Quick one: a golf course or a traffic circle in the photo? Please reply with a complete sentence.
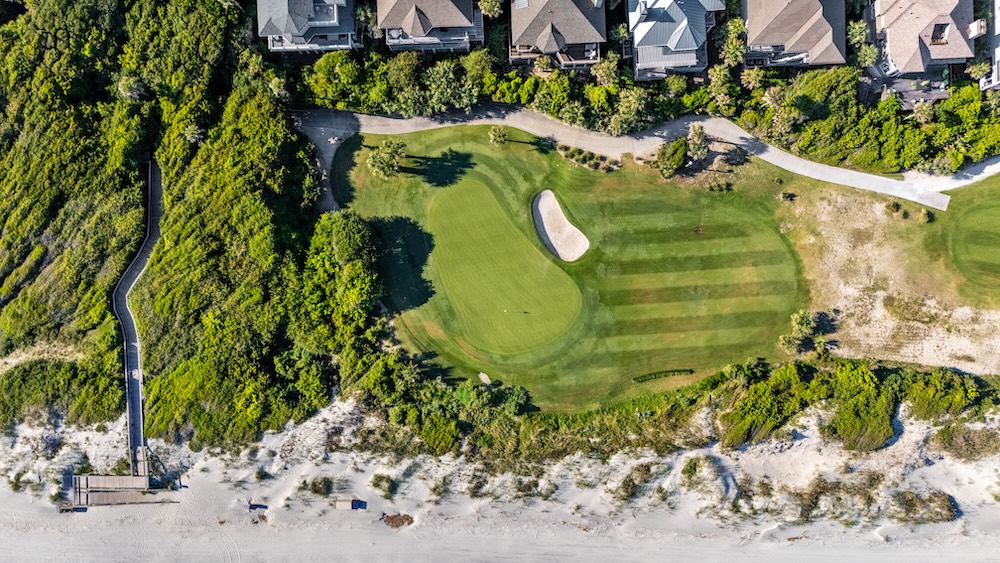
The image shows a golf course.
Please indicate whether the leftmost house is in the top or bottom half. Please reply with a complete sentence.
The leftmost house sits in the top half of the picture.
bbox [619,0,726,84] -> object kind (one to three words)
house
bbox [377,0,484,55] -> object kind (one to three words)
house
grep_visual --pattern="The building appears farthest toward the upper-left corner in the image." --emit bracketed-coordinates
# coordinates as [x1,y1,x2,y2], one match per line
[258,0,365,56]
